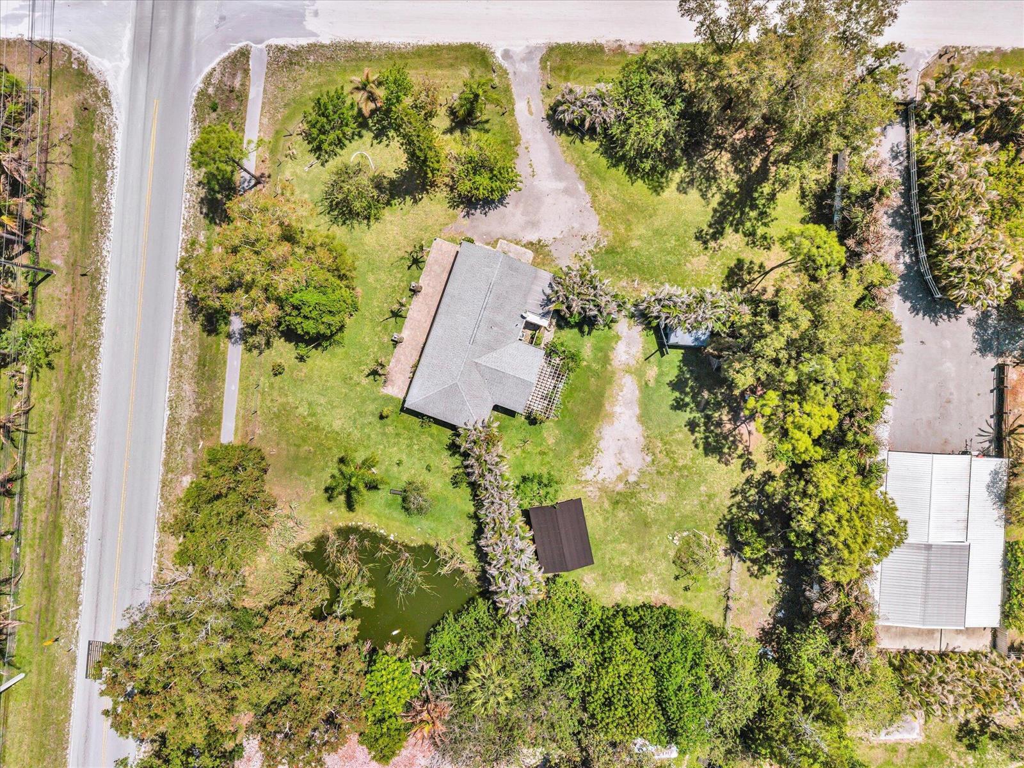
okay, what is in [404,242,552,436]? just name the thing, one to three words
house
